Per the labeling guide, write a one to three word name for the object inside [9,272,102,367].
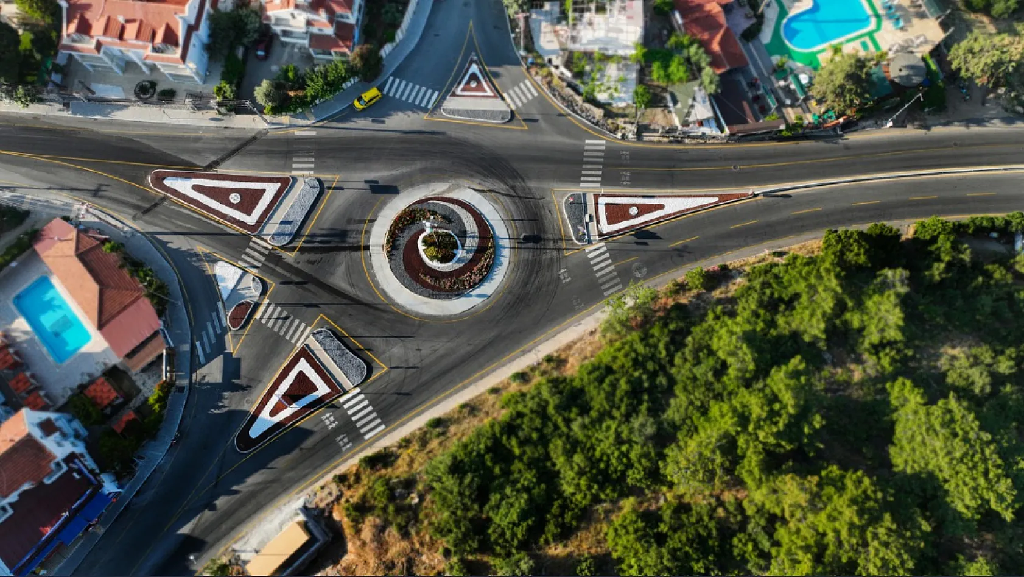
swimming pool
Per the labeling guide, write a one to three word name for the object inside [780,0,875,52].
swimming pool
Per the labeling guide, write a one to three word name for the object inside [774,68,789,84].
umbrella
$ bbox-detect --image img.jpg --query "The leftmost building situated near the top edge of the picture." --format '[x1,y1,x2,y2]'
[58,0,225,89]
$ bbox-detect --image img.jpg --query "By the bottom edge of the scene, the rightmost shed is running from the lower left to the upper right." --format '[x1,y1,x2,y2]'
[246,519,314,577]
